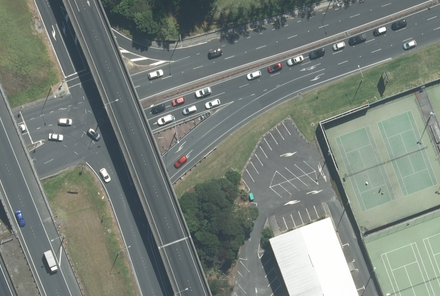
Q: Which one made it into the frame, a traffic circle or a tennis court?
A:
tennis court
